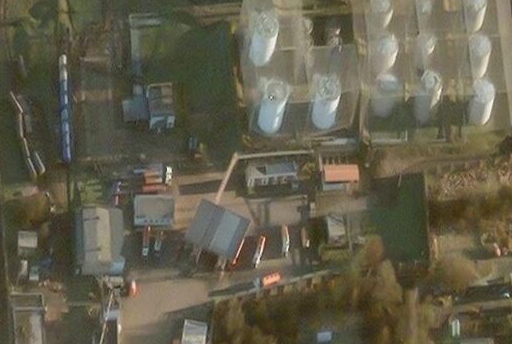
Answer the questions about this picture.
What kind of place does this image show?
industrial area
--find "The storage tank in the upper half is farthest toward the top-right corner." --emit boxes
[458,0,490,34]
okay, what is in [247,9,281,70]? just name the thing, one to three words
storage tank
